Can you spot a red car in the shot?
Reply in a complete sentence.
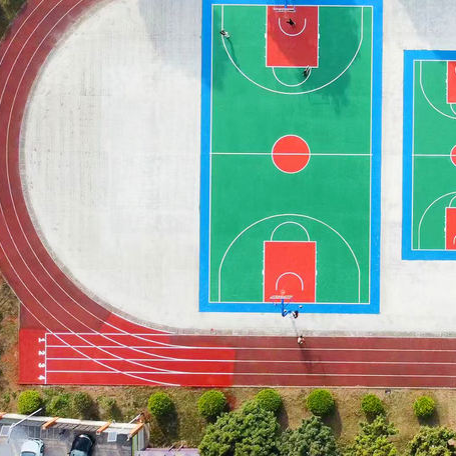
No, there appears to be no red car in this shot.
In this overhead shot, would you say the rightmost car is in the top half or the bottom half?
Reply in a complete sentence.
You can find the rightmost car in the bottom half.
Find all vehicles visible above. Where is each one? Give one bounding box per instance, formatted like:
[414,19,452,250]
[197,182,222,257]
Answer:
[69,432,98,456]
[18,435,47,456]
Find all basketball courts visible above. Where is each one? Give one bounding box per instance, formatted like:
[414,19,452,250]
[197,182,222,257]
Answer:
[402,50,456,261]
[200,0,383,314]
